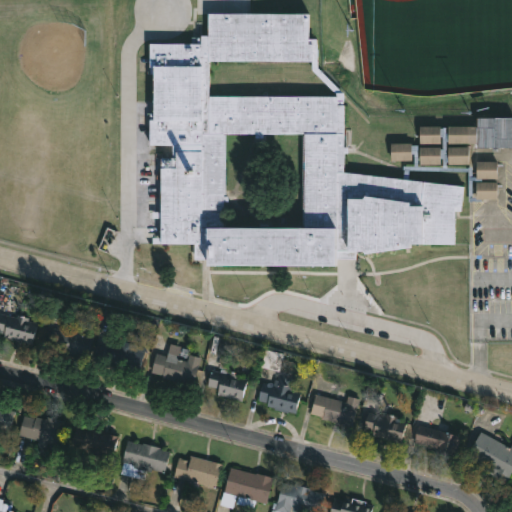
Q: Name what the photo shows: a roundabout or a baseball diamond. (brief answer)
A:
baseball diamond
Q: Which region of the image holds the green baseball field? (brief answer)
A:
top right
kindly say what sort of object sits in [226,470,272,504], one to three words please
house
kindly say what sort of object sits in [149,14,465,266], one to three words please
building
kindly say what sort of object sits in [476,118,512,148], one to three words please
shed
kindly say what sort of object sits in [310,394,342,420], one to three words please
house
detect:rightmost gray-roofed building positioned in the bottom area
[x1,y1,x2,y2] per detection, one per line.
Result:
[476,436,512,478]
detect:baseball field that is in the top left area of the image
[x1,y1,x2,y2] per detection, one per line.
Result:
[20,22,86,92]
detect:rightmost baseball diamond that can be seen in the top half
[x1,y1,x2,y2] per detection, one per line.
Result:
[358,0,512,94]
